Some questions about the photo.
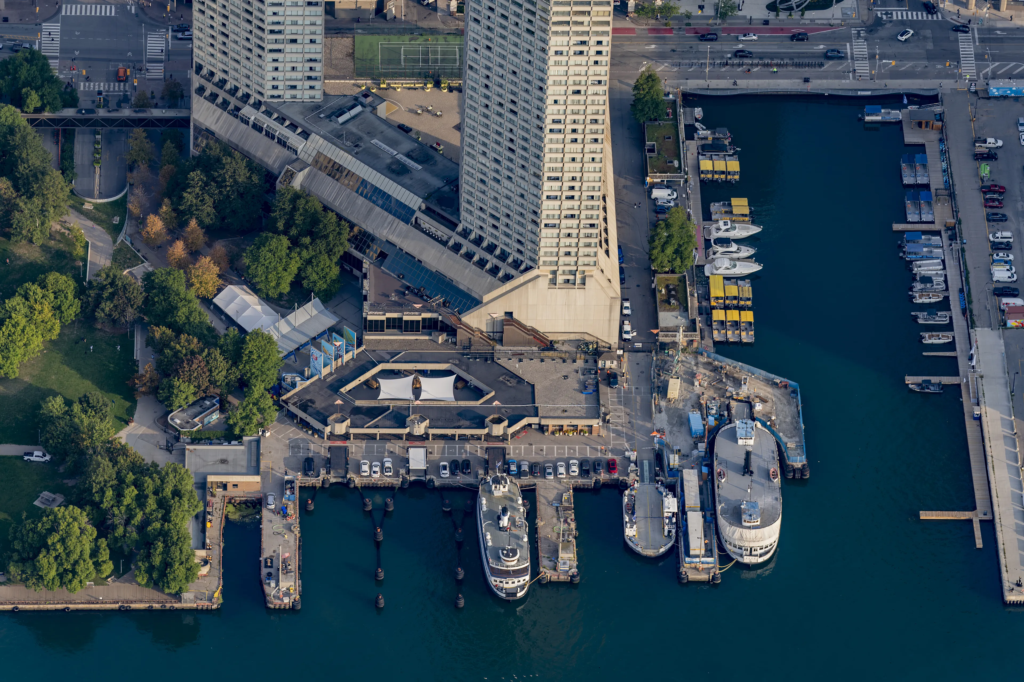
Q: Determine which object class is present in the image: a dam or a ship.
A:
ship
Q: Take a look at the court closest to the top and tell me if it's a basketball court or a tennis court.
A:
tennis court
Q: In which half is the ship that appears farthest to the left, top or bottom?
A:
bottom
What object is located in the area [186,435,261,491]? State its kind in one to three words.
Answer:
building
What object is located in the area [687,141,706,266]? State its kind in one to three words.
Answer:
pier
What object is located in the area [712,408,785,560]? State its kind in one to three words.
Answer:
ship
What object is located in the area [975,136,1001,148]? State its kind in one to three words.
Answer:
vehicle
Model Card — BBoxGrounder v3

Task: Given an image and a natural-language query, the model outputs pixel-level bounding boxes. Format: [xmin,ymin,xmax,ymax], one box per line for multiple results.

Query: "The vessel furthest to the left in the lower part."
[476,460,535,599]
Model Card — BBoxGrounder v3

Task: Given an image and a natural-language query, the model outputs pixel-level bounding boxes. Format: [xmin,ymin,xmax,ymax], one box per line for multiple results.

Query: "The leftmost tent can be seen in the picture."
[212,284,282,327]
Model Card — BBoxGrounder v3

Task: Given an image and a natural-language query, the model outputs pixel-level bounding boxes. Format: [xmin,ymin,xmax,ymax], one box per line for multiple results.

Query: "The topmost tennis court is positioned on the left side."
[355,22,462,78]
